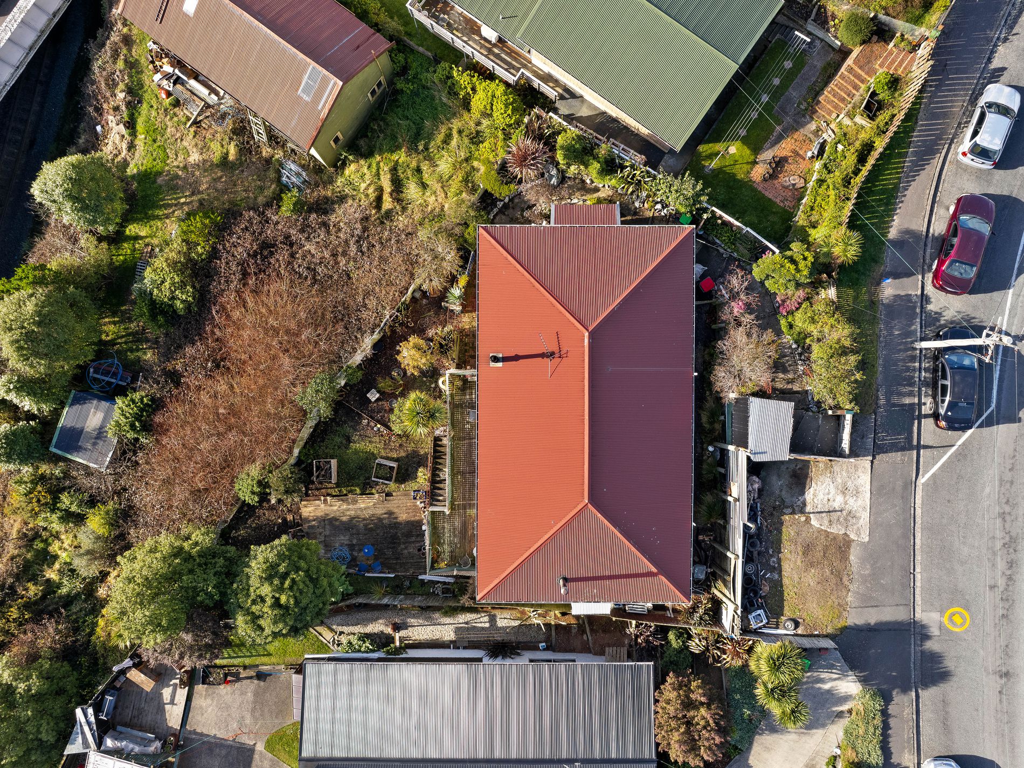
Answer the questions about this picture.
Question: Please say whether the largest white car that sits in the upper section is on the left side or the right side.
right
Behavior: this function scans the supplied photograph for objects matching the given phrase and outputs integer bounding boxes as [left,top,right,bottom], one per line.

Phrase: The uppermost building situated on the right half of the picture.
[450,0,787,159]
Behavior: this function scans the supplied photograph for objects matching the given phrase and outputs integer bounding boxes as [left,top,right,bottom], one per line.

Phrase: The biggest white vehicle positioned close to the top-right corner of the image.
[957,80,1022,172]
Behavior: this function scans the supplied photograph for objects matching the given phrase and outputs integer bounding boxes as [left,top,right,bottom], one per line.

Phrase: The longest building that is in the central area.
[474,202,697,615]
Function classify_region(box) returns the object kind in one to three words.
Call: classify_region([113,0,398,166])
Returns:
shed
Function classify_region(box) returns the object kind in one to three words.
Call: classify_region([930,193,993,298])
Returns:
car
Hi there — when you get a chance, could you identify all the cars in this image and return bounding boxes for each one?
[930,193,993,298]
[957,80,1022,172]
[931,331,982,430]
[924,759,961,768]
